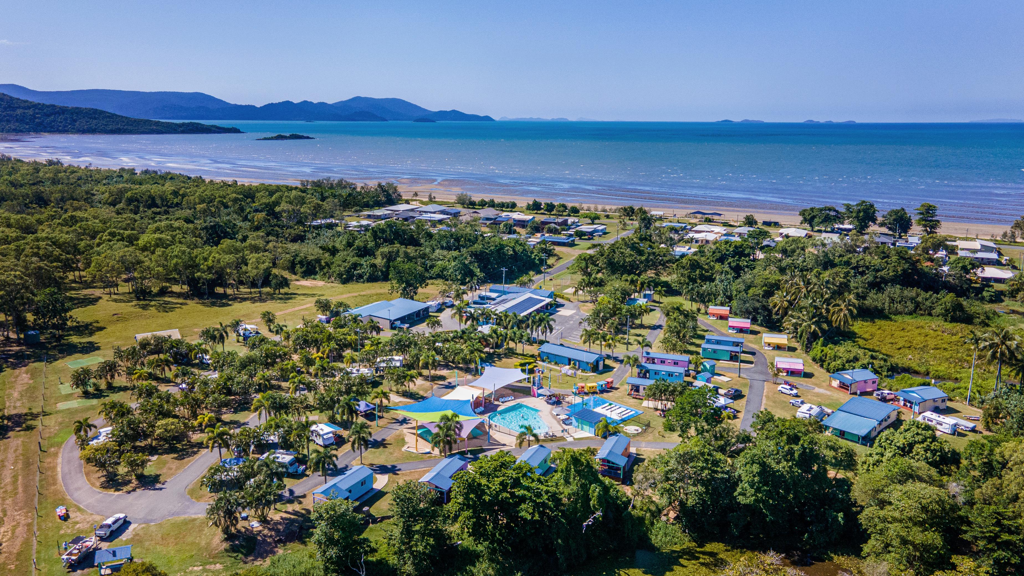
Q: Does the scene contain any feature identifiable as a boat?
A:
Yes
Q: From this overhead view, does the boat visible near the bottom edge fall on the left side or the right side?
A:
left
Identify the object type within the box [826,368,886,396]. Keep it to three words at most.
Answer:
house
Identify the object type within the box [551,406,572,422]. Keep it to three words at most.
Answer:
umbrella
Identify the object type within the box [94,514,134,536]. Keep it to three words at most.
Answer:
truck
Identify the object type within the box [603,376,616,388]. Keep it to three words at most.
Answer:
rail car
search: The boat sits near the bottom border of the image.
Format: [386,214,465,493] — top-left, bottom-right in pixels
[54,535,96,570]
